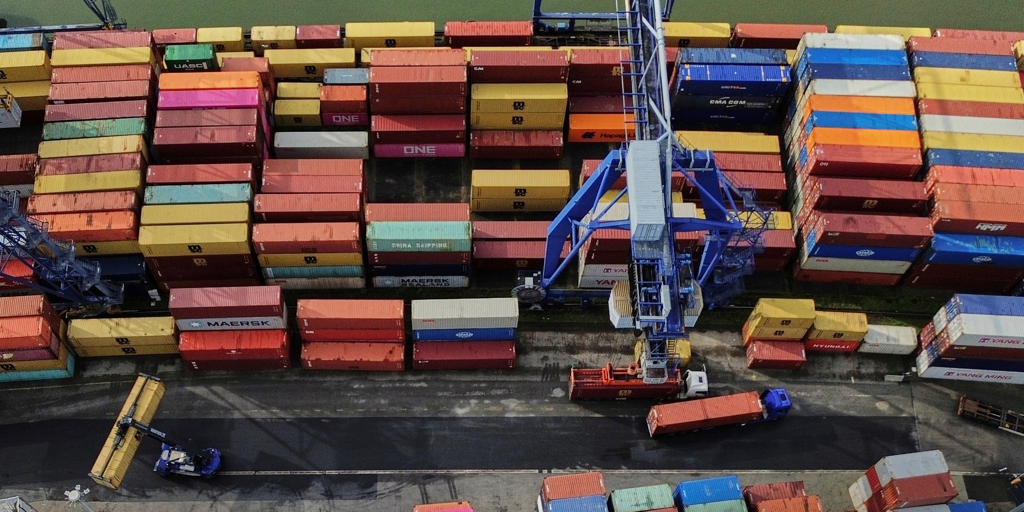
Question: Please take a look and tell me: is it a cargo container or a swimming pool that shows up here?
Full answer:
The one in the frame is a cargo container.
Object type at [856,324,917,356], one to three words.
shipping container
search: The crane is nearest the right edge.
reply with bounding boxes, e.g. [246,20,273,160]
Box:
[508,0,785,398]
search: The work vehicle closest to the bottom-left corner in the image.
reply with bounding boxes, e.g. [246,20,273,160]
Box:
[119,409,224,477]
